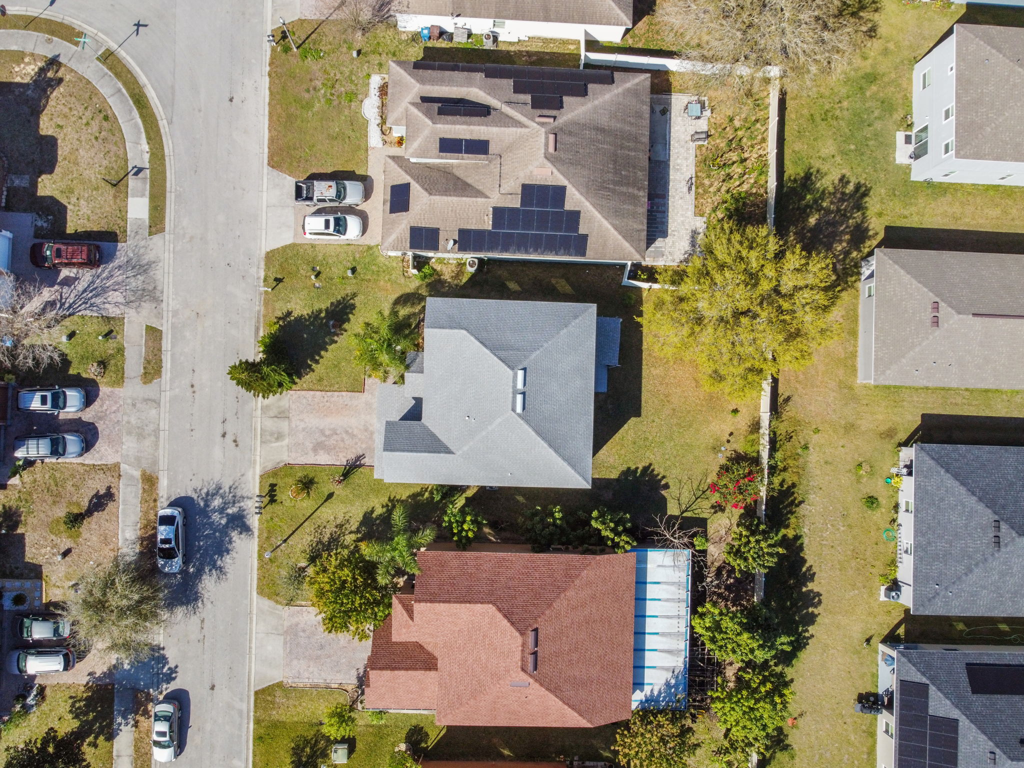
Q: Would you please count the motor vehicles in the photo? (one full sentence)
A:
My tally gives 9 motor vehicles in this view.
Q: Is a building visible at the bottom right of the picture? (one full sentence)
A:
Yes, looking at the bottom right of the picture, one can make out a building.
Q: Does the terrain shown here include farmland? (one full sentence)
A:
No, there is no farmland in the image.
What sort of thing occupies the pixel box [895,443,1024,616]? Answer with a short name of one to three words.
house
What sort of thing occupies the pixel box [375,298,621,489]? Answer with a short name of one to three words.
house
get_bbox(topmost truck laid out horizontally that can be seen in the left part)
[294,177,366,209]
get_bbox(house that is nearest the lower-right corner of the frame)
[878,643,1024,768]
